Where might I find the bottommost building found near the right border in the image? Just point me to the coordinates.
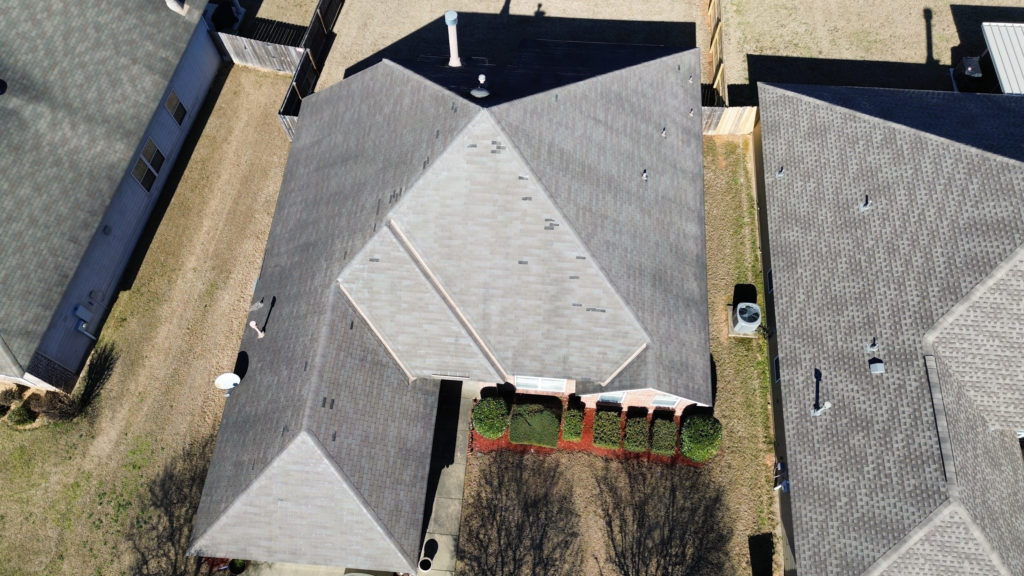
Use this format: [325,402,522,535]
[752,81,1024,576]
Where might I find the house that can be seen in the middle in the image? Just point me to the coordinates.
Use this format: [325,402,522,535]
[185,11,713,576]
